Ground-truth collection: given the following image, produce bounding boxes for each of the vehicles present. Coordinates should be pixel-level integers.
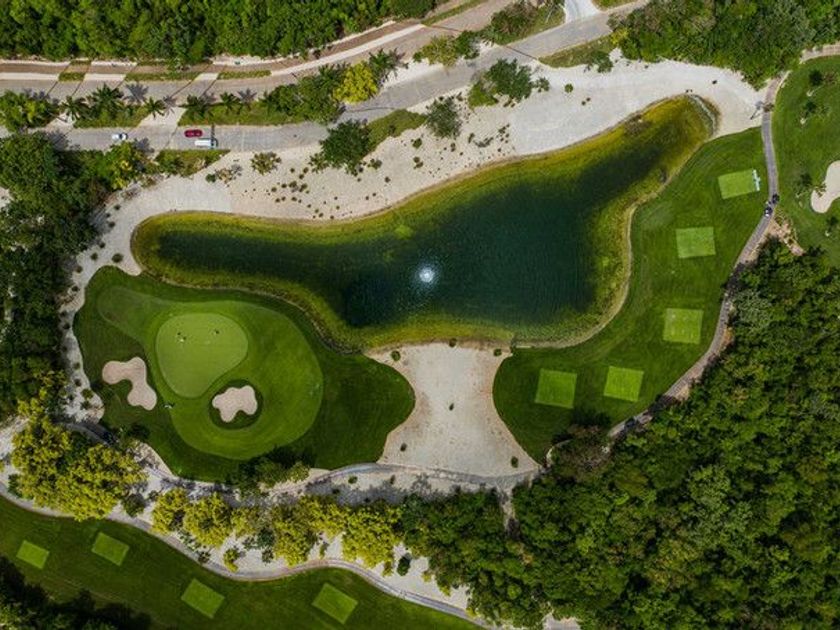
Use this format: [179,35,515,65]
[192,137,217,148]
[111,131,127,140]
[764,206,775,216]
[772,194,783,204]
[184,128,202,137]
